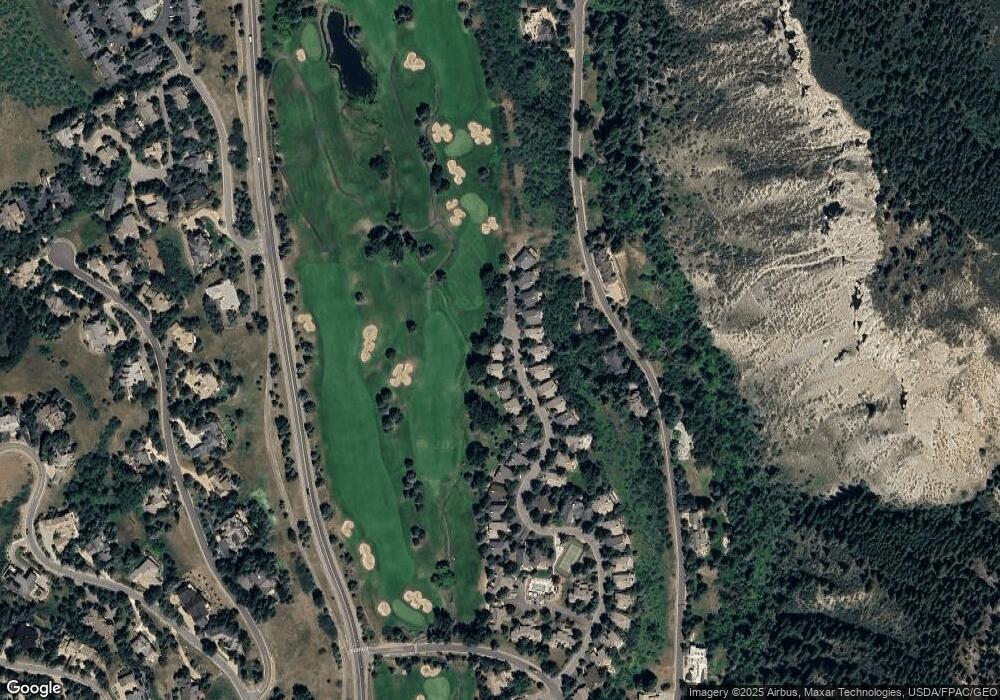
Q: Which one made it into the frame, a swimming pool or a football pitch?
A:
swimming pool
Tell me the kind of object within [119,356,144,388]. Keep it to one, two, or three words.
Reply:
house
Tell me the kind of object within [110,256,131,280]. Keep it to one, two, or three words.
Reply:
house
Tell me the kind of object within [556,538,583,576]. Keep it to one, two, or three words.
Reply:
tennis court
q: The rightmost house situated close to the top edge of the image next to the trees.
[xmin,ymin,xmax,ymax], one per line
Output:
[535,16,564,41]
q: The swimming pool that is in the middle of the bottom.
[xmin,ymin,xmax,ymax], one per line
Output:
[524,575,558,601]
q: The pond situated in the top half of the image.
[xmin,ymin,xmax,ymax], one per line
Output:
[329,13,375,101]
